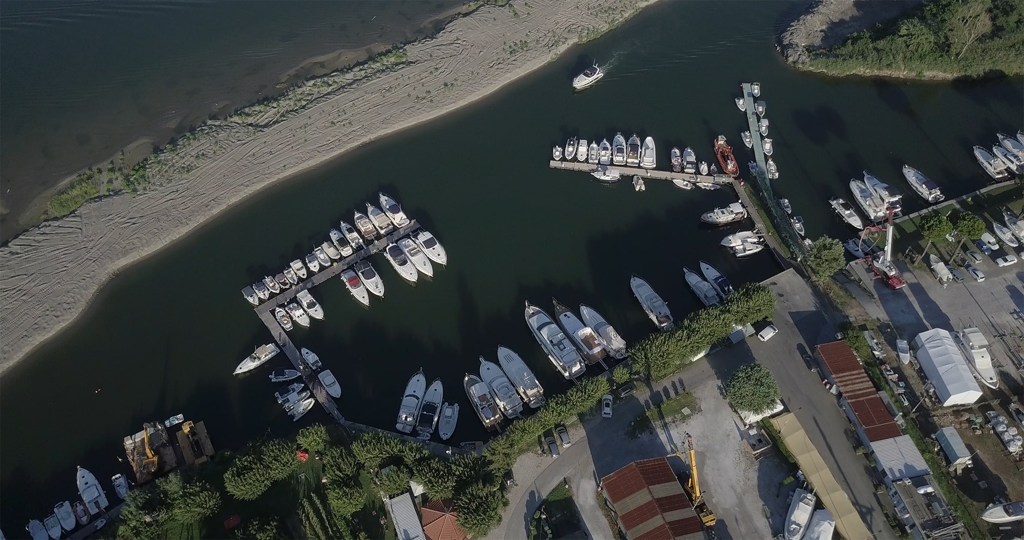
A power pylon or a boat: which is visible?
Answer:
boat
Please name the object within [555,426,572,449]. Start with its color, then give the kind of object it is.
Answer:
gray car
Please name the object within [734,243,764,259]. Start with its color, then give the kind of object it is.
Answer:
white boat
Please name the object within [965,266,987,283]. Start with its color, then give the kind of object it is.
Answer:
gray car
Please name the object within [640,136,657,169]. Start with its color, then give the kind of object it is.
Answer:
white boat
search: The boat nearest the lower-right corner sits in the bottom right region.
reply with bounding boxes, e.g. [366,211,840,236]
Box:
[981,498,1024,529]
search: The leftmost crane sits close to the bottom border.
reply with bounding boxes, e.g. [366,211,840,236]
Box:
[678,434,720,530]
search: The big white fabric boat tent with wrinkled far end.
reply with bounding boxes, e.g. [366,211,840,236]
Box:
[912,328,982,404]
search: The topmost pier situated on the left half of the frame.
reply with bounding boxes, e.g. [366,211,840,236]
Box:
[255,219,422,317]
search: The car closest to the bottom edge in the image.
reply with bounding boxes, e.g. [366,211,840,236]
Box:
[500,466,517,490]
